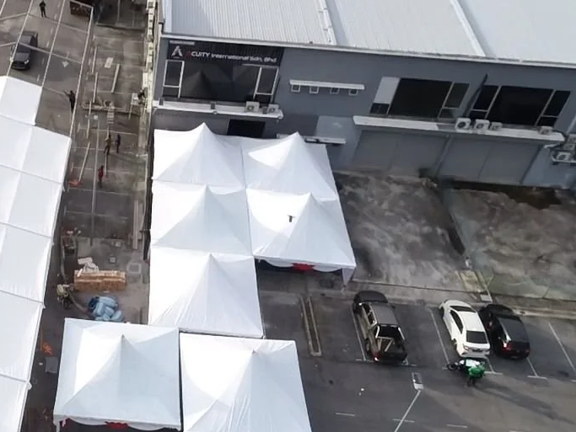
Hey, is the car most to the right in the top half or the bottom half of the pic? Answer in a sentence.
The car most to the right sits in the bottom half of the picture.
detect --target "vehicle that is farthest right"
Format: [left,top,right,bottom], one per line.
[477,292,539,356]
